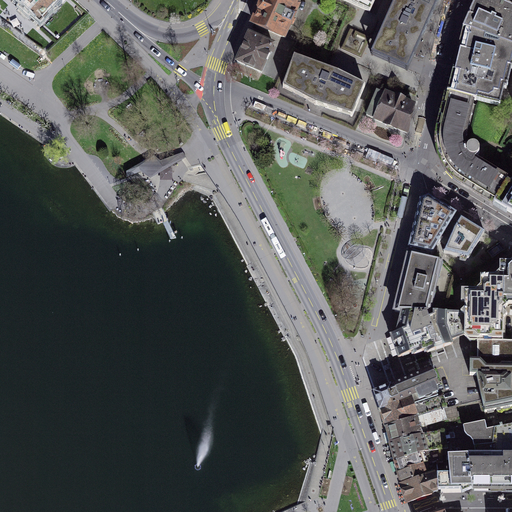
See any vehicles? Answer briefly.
Yes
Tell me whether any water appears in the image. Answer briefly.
Yes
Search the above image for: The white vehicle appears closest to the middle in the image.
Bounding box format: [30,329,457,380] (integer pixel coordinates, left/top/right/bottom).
[258,216,286,260]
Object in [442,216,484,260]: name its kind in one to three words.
building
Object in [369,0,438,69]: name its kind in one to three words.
building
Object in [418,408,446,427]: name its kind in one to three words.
shed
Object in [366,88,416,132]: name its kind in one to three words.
house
